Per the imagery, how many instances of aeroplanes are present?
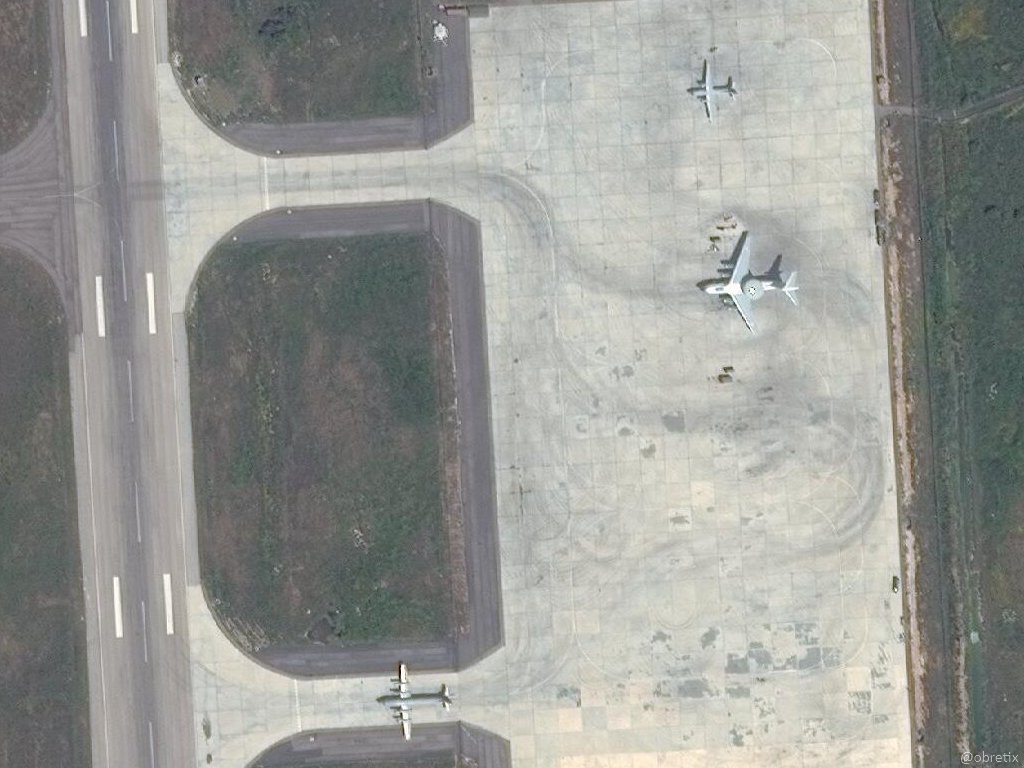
3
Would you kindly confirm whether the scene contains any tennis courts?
No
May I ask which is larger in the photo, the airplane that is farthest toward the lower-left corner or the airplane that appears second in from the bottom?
the airplane that appears second in from the bottom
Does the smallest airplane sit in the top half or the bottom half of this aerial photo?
top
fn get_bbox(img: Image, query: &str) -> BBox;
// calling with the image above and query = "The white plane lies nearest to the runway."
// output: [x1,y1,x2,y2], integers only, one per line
[380,665,458,739]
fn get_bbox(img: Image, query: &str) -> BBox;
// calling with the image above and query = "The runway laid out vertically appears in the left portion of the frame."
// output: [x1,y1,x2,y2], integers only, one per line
[63,0,198,768]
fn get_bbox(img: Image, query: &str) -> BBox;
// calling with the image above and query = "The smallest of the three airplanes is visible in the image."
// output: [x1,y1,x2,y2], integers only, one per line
[691,63,739,121]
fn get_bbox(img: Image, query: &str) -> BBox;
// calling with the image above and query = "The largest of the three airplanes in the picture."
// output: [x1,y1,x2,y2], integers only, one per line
[703,237,800,335]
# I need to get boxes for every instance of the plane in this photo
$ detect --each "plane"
[703,237,800,335]
[691,63,739,121]
[380,665,458,739]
